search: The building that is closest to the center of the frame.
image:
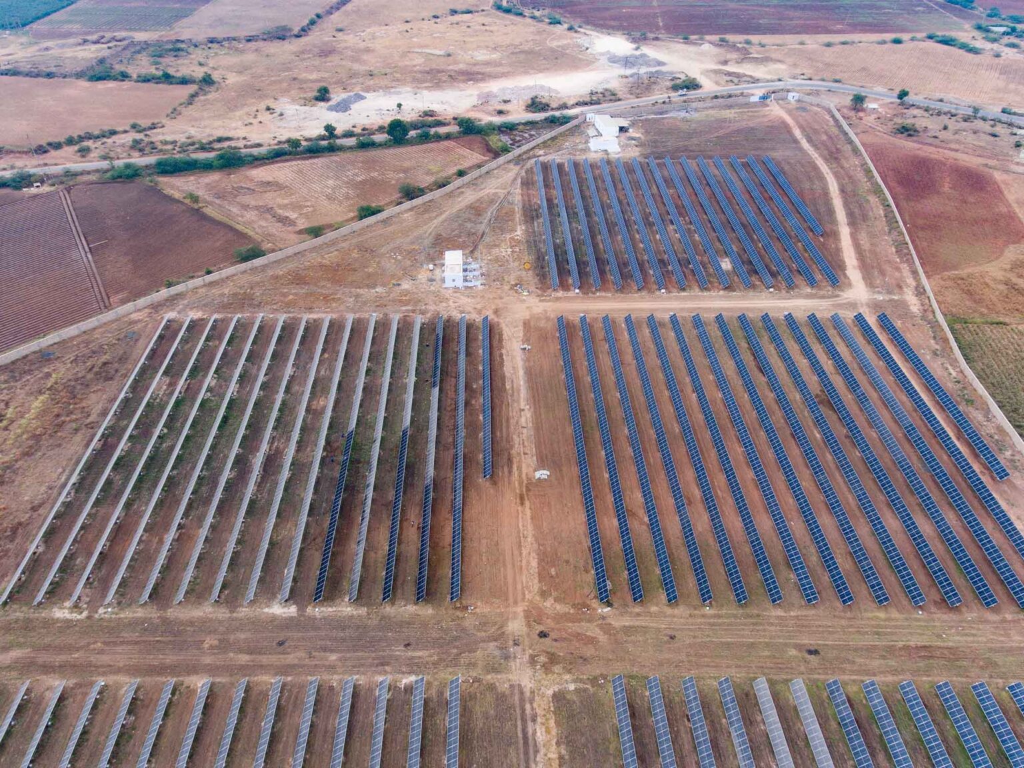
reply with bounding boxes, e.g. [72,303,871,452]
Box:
[443,251,466,288]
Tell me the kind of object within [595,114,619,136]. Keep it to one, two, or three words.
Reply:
building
